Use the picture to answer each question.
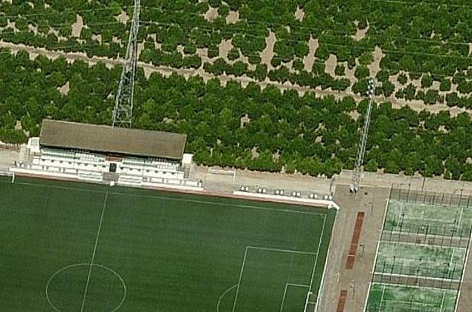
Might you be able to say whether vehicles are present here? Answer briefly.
No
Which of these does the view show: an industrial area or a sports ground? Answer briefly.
sports ground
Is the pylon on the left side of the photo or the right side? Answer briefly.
left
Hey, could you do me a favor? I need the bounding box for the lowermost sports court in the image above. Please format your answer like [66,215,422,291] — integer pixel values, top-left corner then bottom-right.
[363,266,460,312]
